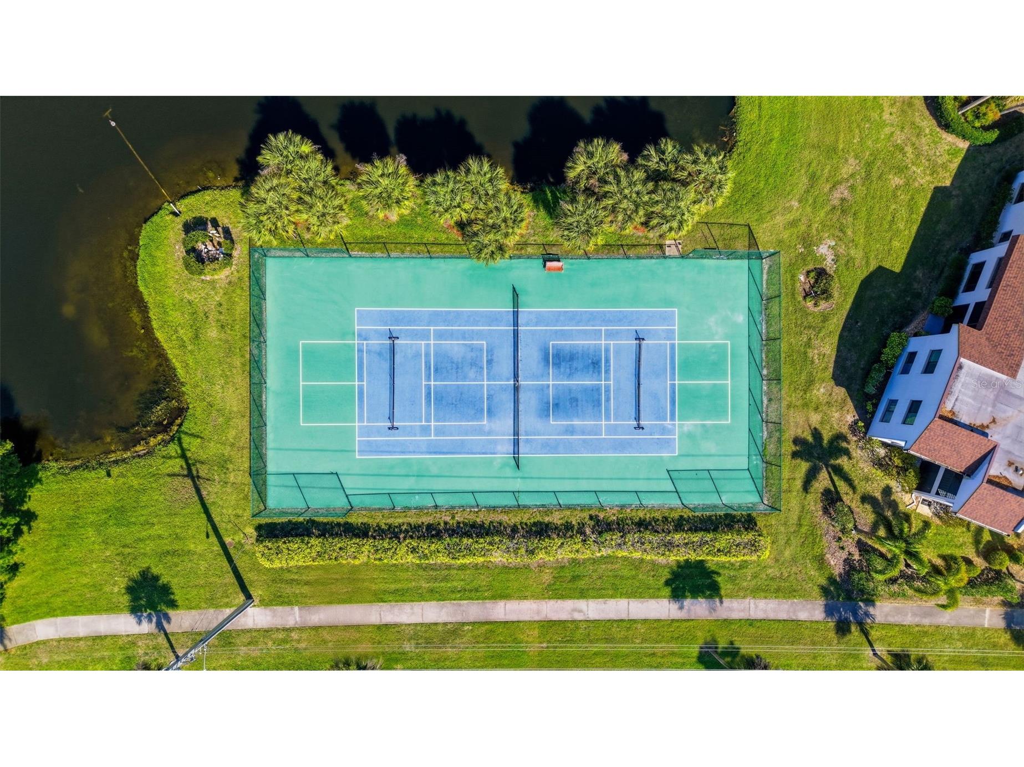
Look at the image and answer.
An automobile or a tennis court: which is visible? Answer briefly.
tennis court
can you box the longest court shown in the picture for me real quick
[265,257,764,510]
